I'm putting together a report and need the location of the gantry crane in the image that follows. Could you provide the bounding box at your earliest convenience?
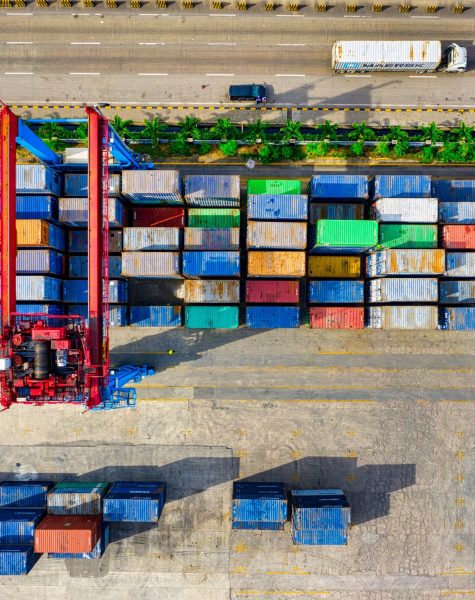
[0,94,158,416]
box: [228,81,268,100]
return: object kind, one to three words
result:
car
